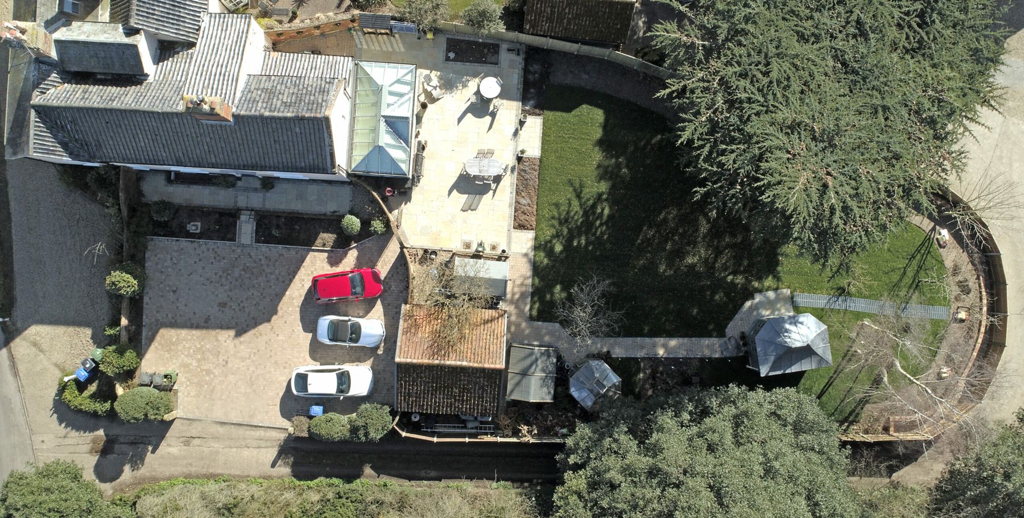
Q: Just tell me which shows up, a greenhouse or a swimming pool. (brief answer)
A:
greenhouse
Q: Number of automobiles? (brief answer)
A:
3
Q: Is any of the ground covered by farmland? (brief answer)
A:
No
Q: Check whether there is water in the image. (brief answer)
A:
No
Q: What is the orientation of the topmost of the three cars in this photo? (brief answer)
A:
horizontally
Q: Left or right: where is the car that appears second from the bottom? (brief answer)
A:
left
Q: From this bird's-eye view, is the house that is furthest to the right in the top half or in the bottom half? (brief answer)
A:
bottom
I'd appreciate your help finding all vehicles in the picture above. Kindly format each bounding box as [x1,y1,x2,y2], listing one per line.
[314,312,387,351]
[290,361,375,401]
[309,264,387,303]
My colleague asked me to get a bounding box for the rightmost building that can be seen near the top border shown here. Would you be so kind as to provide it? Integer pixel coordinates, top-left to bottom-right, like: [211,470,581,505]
[523,0,634,49]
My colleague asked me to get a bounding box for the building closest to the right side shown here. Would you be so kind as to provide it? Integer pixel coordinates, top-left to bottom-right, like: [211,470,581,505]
[747,312,833,377]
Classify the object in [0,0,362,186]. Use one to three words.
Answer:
house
